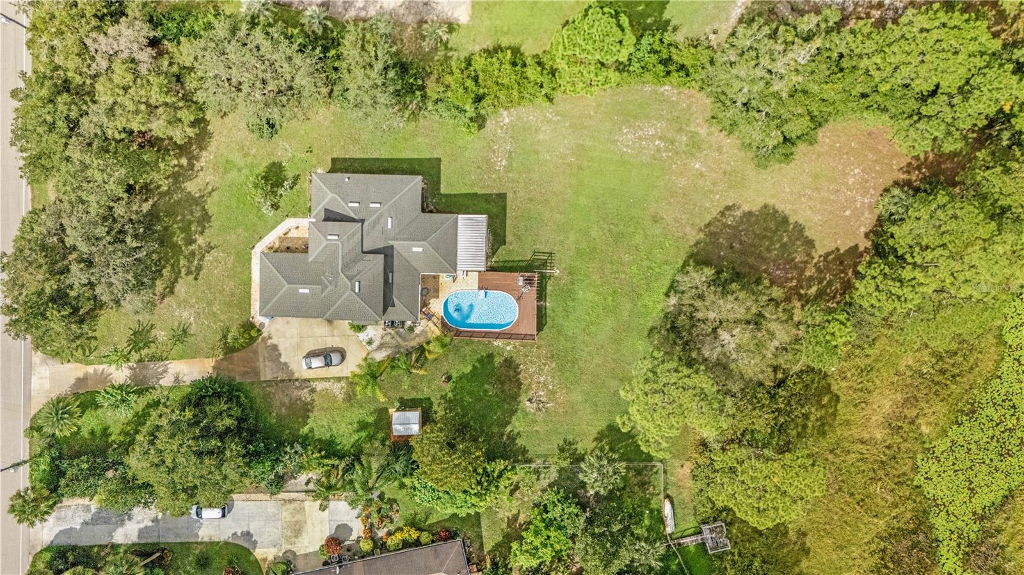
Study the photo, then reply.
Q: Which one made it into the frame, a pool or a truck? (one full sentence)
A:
It is a pool that can be seen here.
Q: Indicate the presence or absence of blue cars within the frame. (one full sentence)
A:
No, the frame has no blue car in it.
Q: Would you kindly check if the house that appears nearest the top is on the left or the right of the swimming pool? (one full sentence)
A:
Compared with the swimming pool, the house that appears nearest the top is located further to the left.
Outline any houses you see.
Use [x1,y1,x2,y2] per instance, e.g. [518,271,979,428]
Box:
[290,539,470,575]
[258,172,458,324]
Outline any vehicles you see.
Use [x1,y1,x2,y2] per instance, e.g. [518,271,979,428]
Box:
[192,504,228,522]
[302,351,344,369]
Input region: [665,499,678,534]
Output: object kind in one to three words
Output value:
boat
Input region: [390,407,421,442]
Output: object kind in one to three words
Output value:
shed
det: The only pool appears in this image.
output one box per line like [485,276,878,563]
[442,290,519,330]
